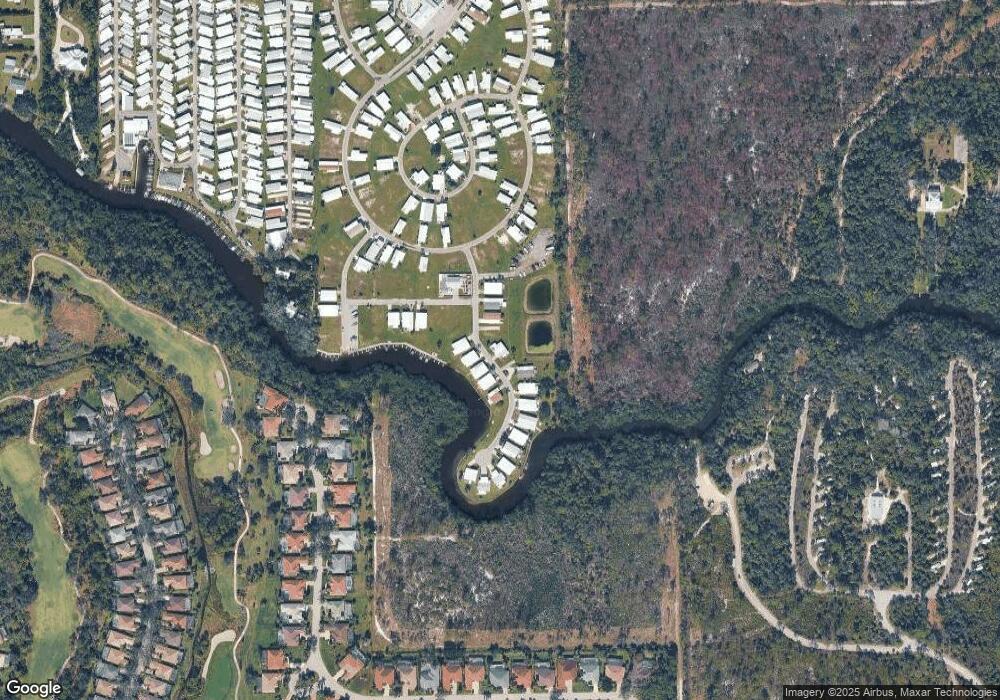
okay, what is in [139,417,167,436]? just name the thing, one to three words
house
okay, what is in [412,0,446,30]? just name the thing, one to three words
building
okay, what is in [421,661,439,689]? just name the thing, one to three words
house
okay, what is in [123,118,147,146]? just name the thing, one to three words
building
